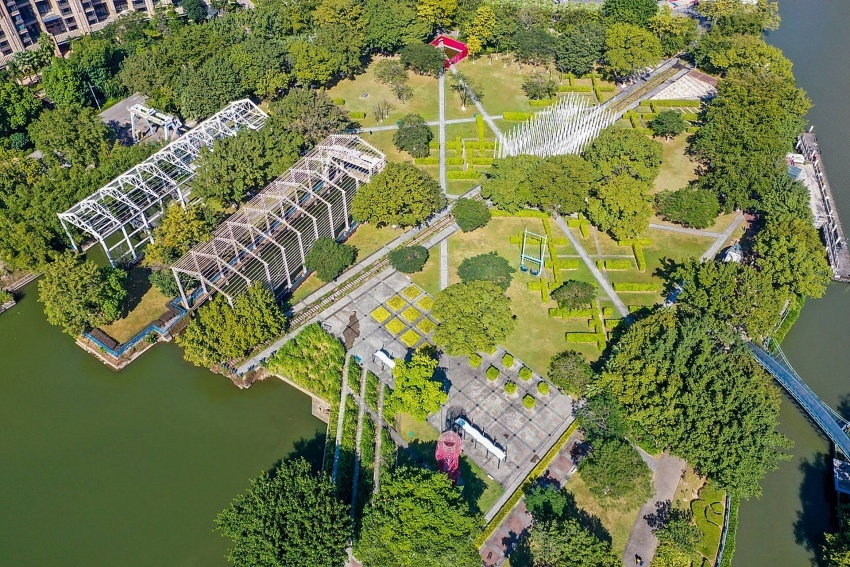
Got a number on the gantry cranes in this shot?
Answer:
1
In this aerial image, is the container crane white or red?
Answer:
white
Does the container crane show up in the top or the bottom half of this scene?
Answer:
top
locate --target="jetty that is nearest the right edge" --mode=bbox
[802,131,850,287]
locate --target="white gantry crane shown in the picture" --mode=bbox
[126,109,185,159]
